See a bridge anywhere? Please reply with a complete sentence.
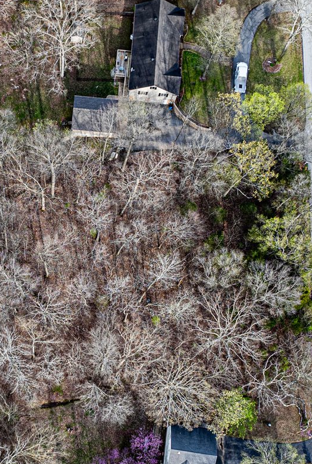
No, the picture doesn't show any bridge.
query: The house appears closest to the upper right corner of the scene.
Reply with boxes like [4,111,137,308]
[127,0,189,106]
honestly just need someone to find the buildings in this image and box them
[127,0,189,106]
[73,93,119,136]
[68,22,87,48]
[164,423,218,464]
